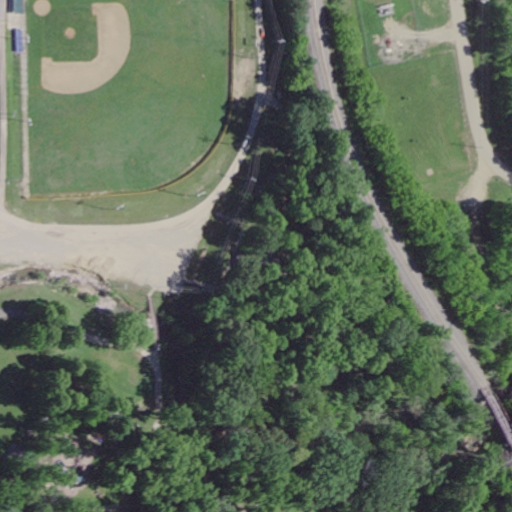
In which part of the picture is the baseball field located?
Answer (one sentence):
The baseball field appears toward the top left of the photo.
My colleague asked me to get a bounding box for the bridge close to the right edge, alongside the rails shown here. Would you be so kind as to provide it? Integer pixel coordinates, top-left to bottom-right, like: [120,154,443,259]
[476,384,512,446]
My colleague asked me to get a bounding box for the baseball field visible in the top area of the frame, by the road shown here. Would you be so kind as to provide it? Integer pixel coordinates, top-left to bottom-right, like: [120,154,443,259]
[20,0,233,199]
